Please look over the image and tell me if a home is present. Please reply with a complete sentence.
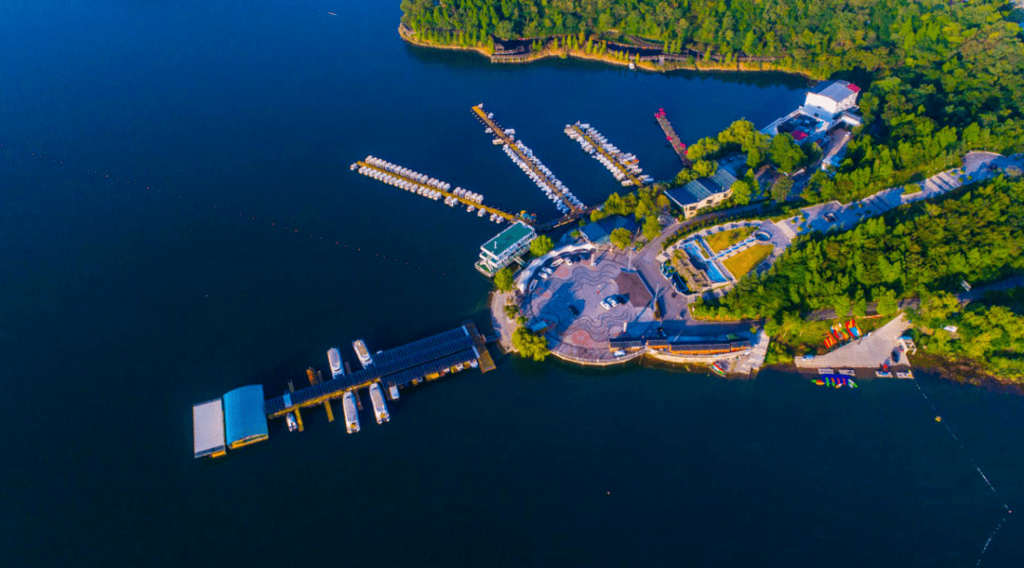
Yes, the frame does contain a home.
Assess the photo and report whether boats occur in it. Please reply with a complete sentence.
Yes, this view includes a boat.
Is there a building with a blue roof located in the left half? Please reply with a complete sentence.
Yes, a building with a blue roof is visible in the left half.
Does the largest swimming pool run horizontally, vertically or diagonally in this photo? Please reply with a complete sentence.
What the image shows is the largest swimming pool lying diagonally.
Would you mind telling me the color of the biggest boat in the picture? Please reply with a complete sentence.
The color of the biggest boat is blue.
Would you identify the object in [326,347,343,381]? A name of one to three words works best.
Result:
boat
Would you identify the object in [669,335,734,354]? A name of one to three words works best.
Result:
shed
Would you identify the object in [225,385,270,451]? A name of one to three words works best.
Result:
building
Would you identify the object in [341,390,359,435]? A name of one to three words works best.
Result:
boat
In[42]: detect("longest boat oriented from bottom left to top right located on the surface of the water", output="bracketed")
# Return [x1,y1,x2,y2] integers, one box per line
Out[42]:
[469,218,536,274]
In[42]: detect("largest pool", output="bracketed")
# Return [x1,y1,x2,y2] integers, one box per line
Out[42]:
[683,239,730,285]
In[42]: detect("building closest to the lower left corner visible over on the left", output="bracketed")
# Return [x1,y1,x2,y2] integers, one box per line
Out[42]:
[193,395,231,468]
